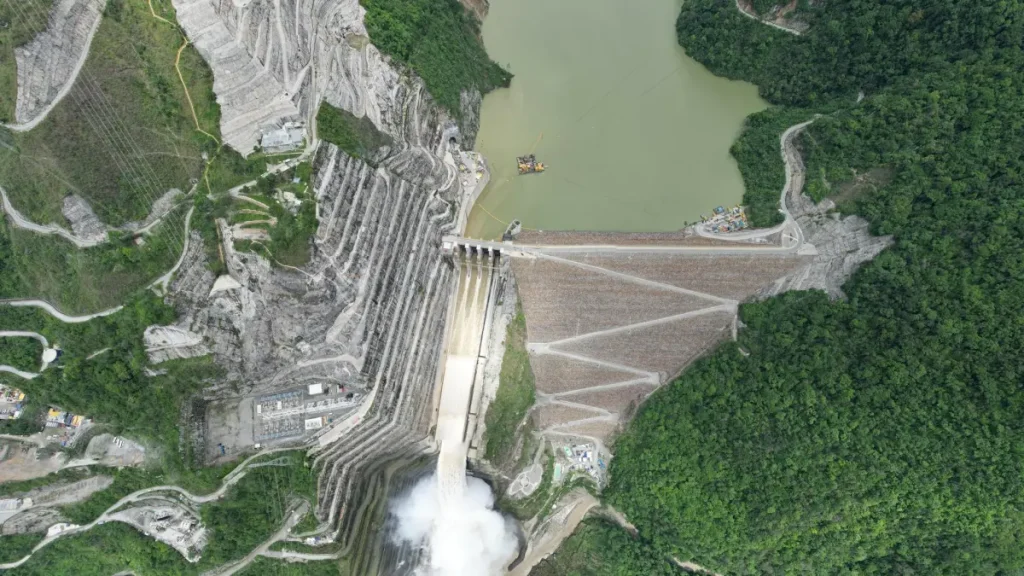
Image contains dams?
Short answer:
Yes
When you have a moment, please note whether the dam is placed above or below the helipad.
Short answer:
above it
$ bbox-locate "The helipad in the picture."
[509,463,544,495]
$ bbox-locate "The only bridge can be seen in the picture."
[441,237,514,253]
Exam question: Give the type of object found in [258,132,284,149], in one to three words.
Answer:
building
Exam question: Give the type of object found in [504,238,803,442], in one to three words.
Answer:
dam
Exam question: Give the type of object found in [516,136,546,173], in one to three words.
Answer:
ship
